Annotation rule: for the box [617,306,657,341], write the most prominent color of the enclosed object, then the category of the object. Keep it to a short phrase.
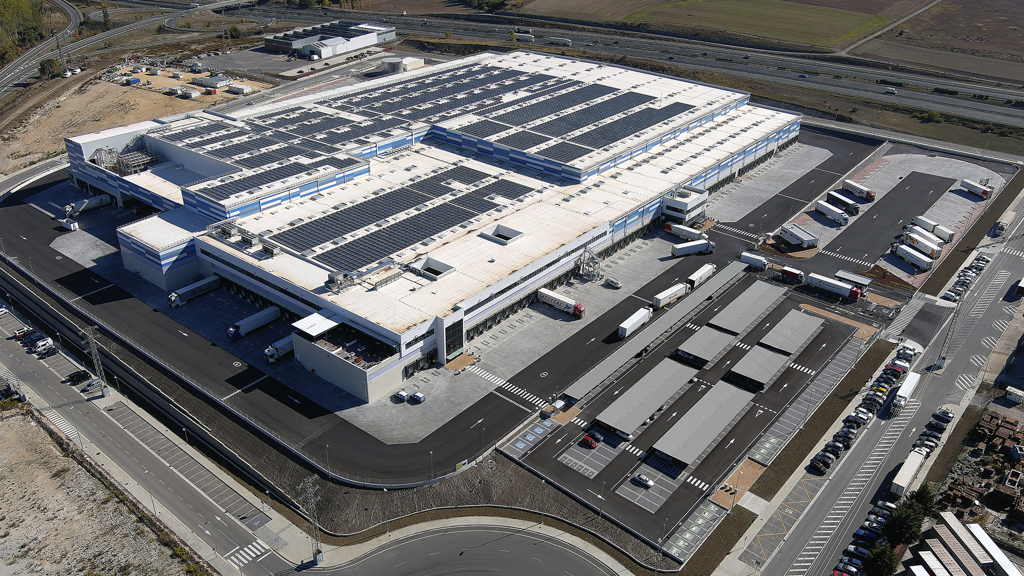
white truck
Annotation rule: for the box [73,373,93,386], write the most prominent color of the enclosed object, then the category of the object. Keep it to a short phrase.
black vehicle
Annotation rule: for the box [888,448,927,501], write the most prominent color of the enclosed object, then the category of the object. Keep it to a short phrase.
white truck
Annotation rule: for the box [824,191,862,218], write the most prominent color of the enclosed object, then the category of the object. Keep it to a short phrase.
black truck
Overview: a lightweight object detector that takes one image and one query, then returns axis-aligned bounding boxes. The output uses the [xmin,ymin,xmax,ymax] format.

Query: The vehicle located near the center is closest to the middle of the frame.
[536,288,587,322]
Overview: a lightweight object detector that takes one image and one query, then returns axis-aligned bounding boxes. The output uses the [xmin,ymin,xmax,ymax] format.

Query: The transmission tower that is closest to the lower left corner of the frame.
[74,301,117,398]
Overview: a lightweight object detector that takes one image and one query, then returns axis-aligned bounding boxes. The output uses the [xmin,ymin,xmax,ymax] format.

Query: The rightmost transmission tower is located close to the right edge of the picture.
[929,274,976,371]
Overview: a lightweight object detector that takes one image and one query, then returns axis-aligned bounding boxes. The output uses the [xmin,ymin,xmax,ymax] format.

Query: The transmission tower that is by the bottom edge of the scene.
[291,462,329,568]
